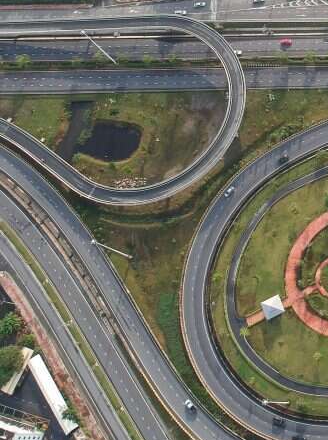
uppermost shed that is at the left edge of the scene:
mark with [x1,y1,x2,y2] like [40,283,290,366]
[1,348,37,394]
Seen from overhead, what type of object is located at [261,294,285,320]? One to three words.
building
